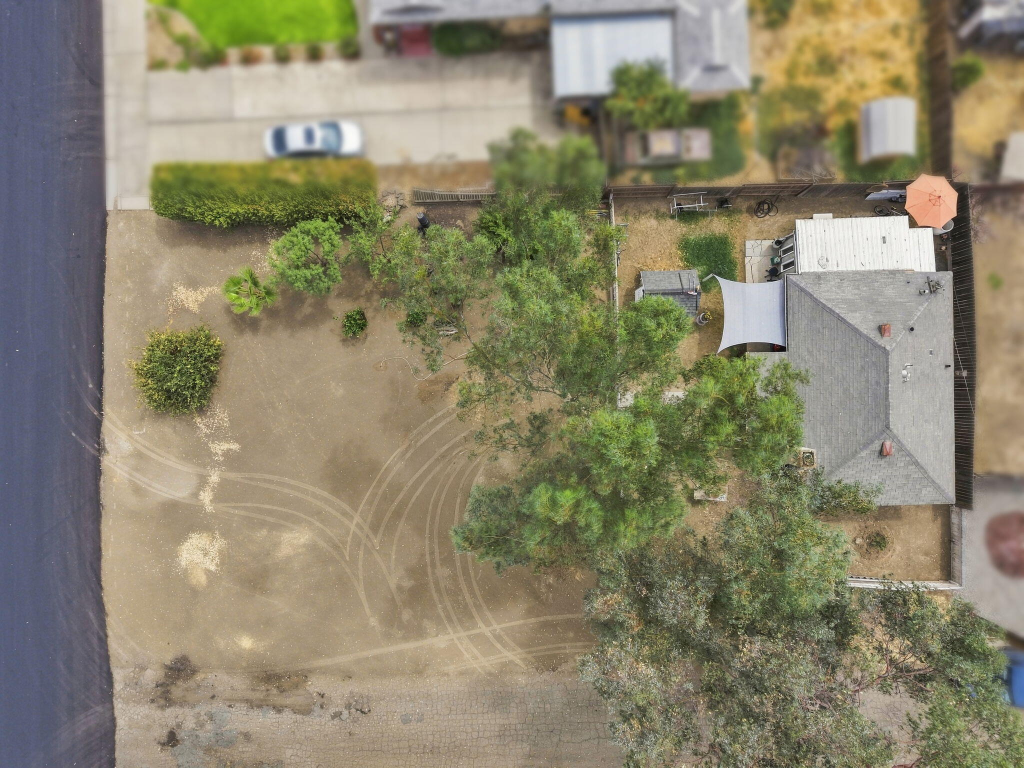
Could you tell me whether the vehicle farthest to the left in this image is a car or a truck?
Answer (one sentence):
The vehicle farthest to the left in the image is a car.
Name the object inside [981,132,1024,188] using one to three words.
shed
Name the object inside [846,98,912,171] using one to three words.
shed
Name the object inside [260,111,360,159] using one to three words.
car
